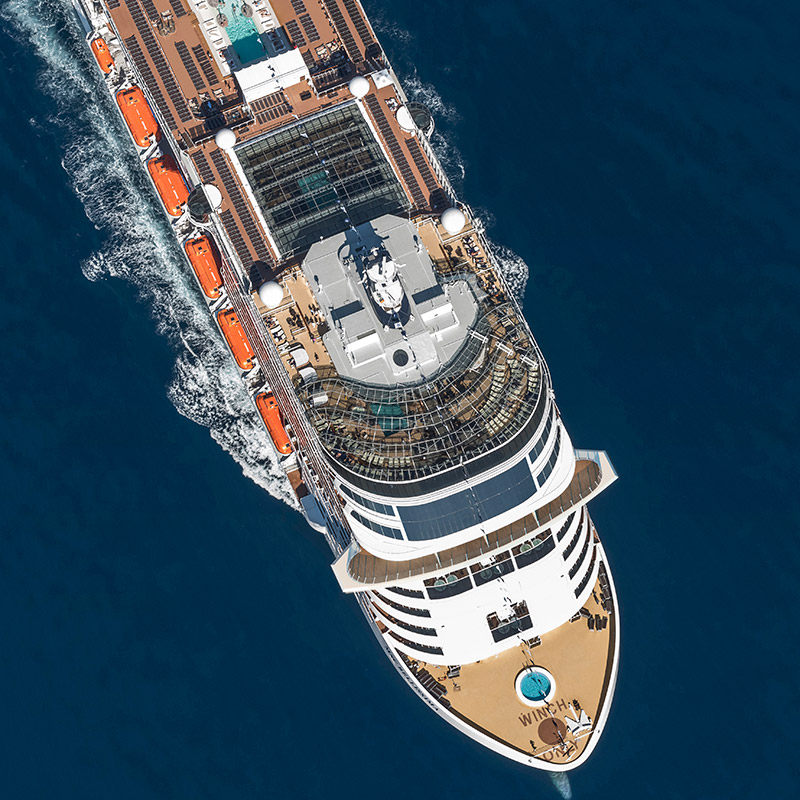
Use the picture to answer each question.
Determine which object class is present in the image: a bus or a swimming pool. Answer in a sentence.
The image shows a swimming pool.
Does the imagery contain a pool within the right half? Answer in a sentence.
Yes, a pool can be seen within the right half.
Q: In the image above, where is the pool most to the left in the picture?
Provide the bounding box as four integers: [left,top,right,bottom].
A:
[186,0,295,96]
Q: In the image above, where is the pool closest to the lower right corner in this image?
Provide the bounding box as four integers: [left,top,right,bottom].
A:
[516,667,555,706]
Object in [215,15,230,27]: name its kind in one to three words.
umbrella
